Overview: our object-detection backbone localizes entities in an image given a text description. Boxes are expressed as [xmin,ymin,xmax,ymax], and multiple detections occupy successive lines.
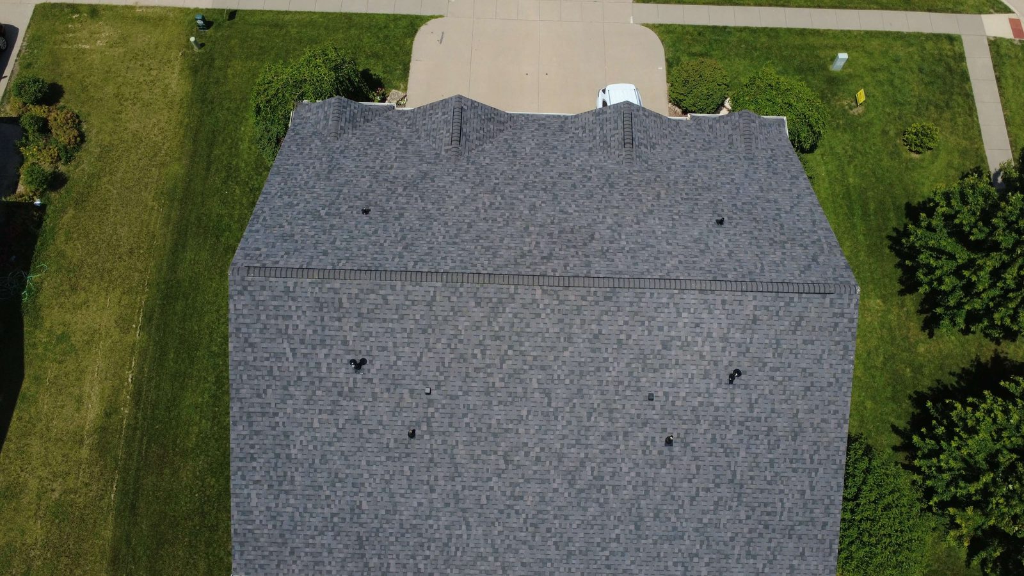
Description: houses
[229,96,859,576]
